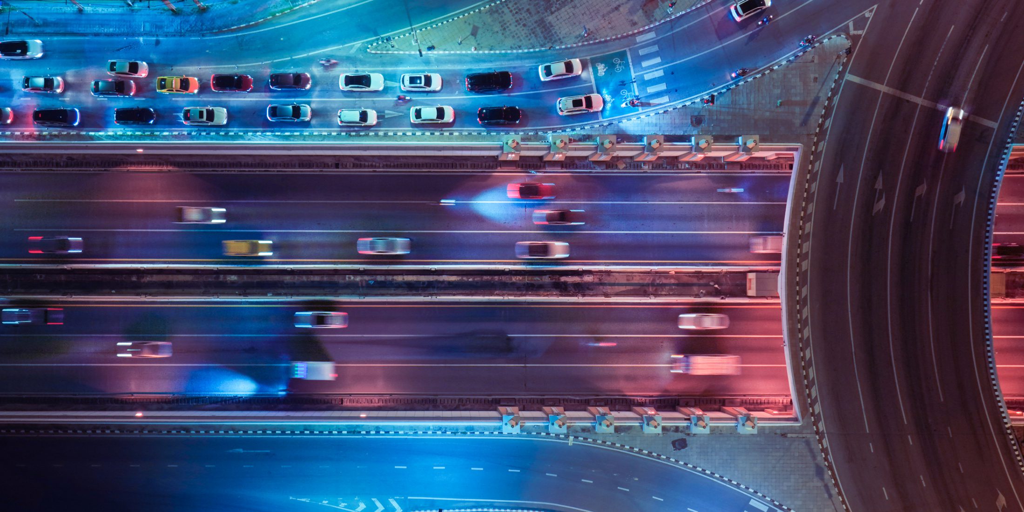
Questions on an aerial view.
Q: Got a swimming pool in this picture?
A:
No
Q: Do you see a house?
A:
No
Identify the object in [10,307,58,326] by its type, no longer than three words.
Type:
vehicle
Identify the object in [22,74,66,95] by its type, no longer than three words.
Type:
car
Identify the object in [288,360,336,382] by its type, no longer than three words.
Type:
truck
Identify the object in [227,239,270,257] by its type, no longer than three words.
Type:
car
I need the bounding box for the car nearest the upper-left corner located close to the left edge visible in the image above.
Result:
[0,38,44,59]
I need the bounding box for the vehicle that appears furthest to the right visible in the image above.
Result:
[995,241,1024,261]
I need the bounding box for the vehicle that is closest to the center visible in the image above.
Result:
[520,240,564,260]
